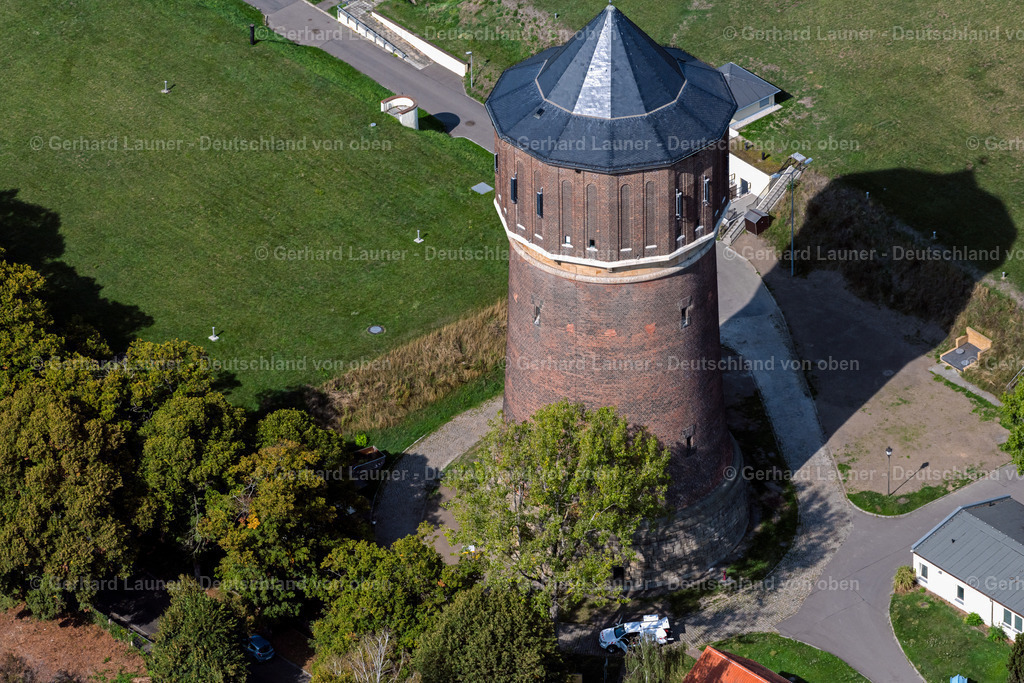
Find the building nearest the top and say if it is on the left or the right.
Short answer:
right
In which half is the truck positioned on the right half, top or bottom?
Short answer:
bottom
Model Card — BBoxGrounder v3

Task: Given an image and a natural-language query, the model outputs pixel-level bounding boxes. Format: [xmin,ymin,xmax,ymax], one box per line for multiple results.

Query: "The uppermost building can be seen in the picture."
[716,62,783,135]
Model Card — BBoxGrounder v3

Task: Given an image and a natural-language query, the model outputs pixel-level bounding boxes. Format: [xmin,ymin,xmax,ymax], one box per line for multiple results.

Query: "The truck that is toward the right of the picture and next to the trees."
[597,609,674,652]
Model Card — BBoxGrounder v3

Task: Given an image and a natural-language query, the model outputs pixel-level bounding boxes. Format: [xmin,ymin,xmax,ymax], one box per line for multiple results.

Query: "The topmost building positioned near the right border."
[908,487,1024,636]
